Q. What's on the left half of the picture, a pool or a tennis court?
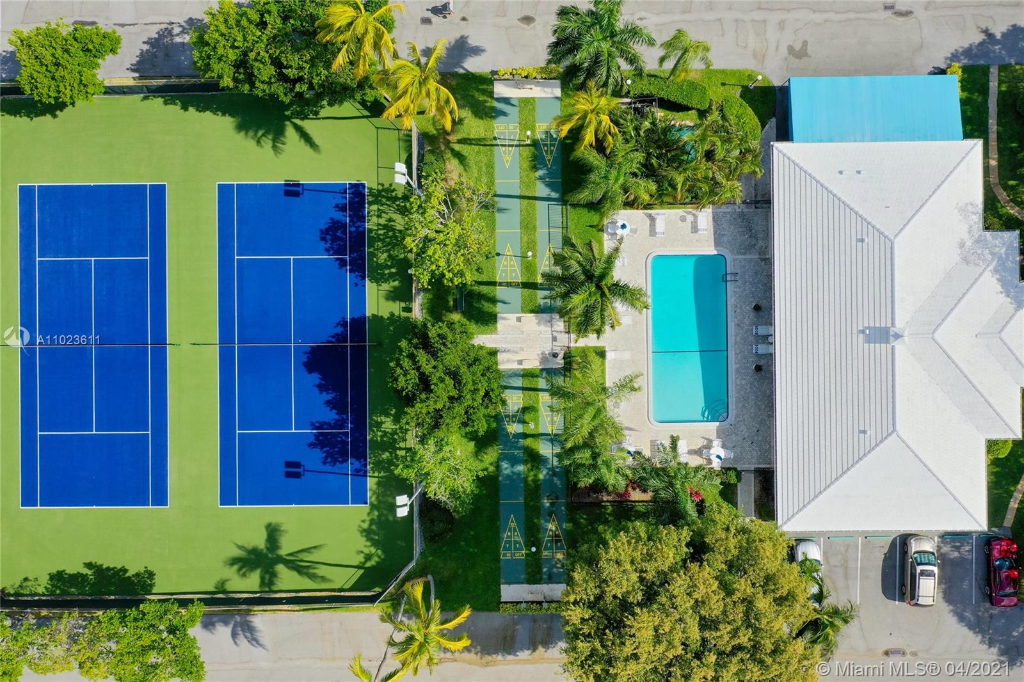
tennis court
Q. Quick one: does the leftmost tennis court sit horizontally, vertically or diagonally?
vertically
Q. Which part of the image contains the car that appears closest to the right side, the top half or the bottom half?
bottom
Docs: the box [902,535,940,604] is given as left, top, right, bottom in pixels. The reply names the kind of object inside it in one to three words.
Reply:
car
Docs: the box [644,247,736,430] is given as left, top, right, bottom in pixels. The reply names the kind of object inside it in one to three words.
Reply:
swimming pool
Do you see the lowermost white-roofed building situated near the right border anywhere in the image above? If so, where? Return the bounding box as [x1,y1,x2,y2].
[769,138,1024,534]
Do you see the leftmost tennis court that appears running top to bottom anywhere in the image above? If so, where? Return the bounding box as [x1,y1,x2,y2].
[17,183,170,508]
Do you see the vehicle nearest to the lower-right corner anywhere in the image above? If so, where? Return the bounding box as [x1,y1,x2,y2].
[984,536,1022,606]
